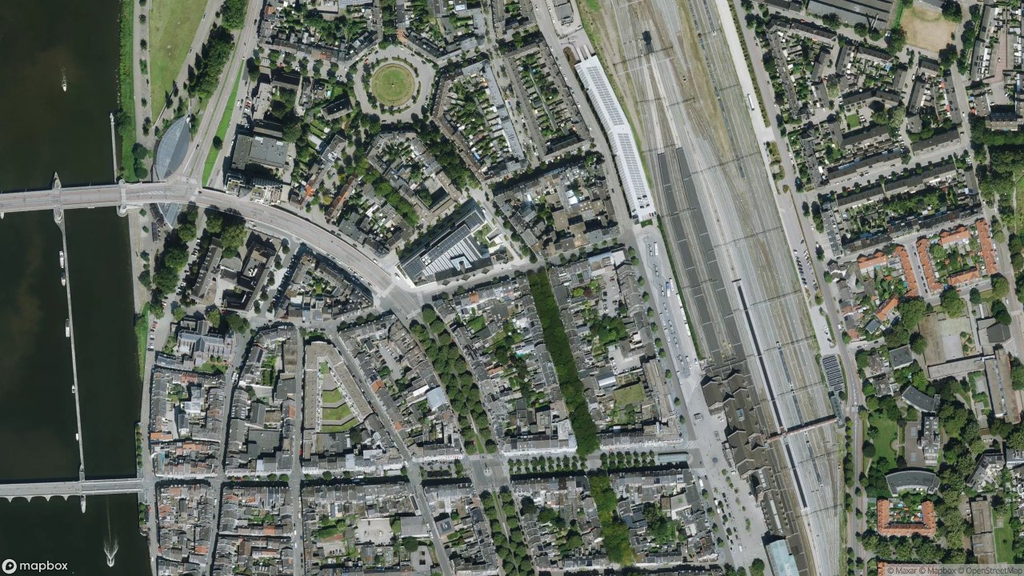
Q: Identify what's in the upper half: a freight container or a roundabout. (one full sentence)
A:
You can see a roundabout in the upper half.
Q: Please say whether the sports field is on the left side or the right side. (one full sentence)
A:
The sports field is on the right side of the image.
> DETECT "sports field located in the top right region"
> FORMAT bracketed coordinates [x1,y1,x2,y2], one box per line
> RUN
[902,5,958,53]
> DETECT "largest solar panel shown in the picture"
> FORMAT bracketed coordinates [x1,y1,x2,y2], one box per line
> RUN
[403,256,425,279]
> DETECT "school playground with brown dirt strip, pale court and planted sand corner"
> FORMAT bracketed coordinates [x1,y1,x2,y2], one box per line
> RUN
[919,312,976,367]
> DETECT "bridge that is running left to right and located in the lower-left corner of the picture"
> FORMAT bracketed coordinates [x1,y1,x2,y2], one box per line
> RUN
[0,467,143,516]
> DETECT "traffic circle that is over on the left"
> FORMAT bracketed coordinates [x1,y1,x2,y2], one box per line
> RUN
[365,56,420,114]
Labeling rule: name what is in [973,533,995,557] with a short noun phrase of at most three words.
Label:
building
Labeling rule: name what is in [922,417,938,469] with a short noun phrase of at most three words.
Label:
house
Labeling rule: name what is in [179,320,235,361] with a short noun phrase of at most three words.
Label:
building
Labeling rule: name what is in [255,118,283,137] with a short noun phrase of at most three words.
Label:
house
